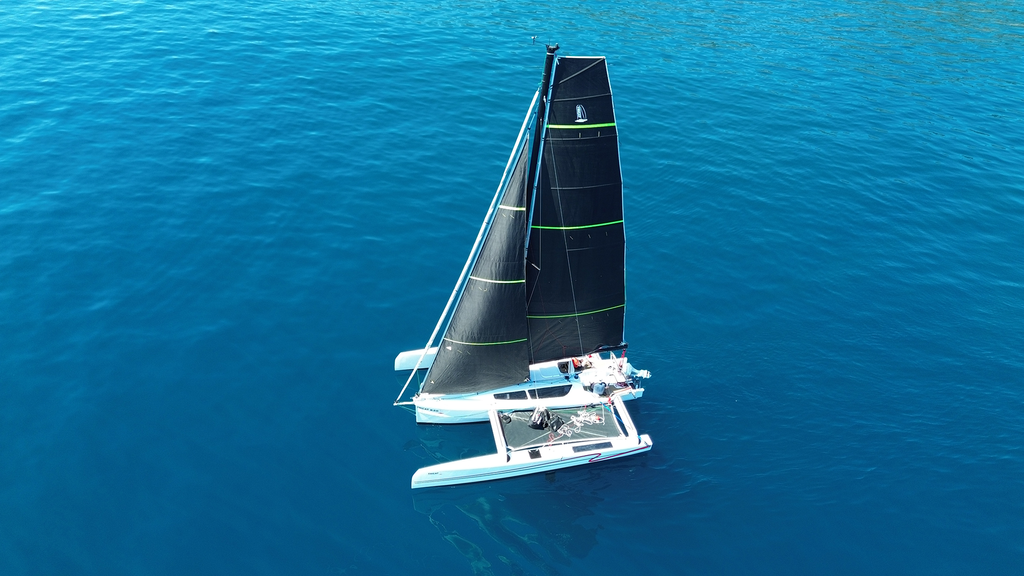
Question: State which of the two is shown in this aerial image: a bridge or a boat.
boat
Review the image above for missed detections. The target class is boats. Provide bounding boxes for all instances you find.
[393,35,652,489]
